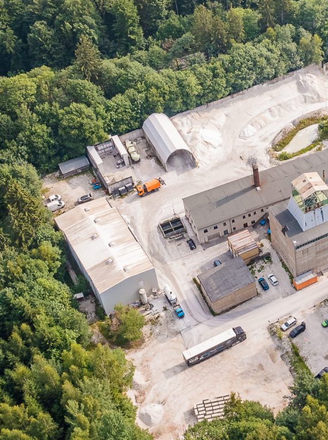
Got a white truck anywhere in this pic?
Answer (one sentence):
Yes, the picture does show a white truck.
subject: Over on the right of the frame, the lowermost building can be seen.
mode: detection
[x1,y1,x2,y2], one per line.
[195,257,257,315]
